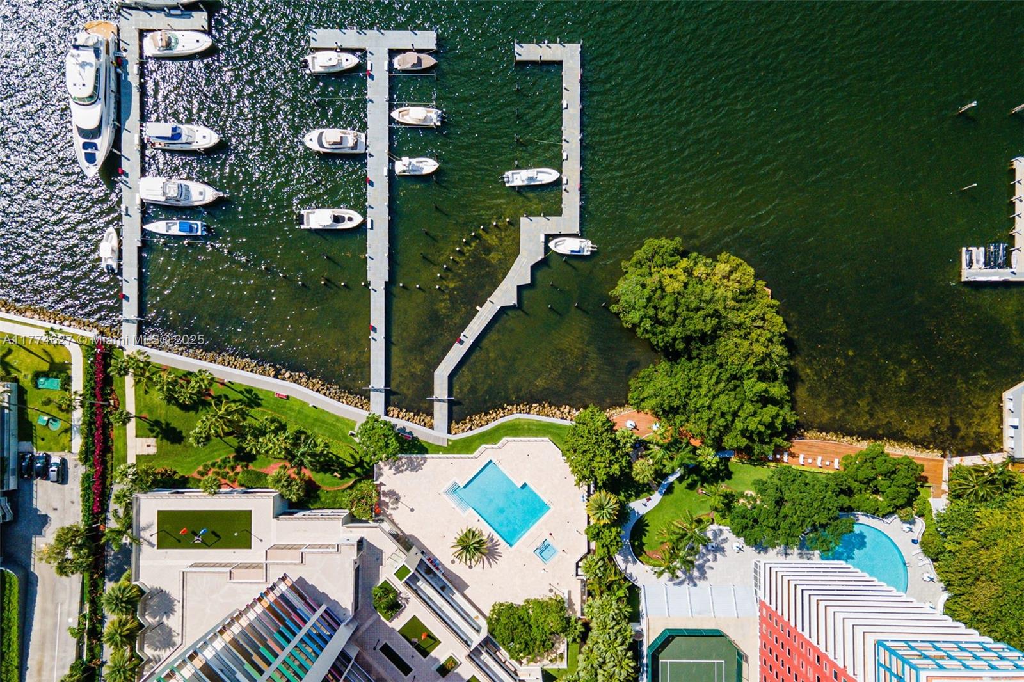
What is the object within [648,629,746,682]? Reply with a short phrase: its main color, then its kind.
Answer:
green tennis court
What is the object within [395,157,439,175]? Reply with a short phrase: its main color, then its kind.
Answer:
white boat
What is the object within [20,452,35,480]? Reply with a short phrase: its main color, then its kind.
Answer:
black car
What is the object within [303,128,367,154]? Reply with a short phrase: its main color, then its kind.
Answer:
white boat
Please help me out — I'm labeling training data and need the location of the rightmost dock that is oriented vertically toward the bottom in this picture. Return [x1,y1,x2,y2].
[999,381,1024,457]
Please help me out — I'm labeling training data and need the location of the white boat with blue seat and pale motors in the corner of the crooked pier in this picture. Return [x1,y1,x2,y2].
[549,237,596,255]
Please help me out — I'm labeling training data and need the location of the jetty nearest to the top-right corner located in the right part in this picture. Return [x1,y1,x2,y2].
[959,156,1024,282]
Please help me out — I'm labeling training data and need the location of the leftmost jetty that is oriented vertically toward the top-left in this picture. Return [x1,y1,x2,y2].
[119,9,210,346]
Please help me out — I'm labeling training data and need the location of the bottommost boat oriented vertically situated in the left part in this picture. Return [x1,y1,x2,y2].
[100,227,121,272]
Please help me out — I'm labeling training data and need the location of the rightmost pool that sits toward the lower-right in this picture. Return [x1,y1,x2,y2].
[818,521,912,597]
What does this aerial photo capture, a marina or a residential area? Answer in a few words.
marina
